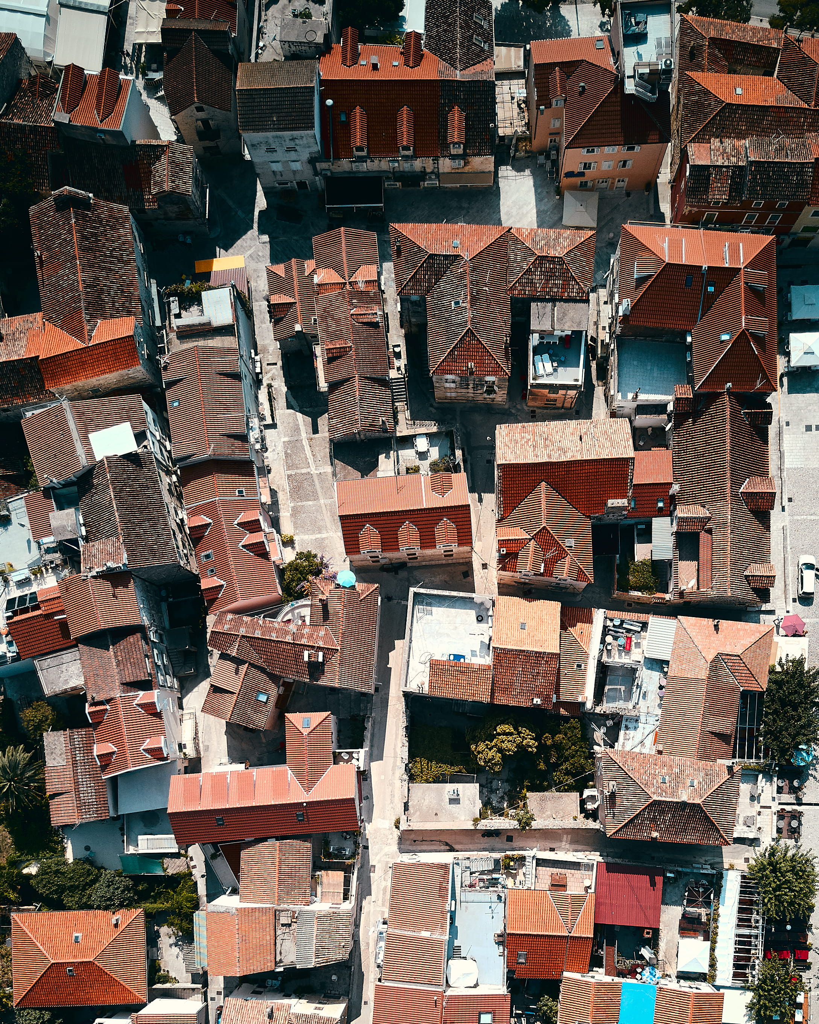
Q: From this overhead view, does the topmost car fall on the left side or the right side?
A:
right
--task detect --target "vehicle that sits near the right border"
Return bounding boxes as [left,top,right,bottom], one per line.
[798,556,819,597]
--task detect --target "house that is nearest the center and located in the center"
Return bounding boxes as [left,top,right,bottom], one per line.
[334,472,474,561]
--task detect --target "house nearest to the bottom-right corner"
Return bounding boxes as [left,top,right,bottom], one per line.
[654,972,725,1024]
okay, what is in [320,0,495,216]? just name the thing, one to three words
house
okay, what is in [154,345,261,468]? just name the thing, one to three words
house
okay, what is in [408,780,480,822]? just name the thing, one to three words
shed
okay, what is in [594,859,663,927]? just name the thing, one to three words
building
